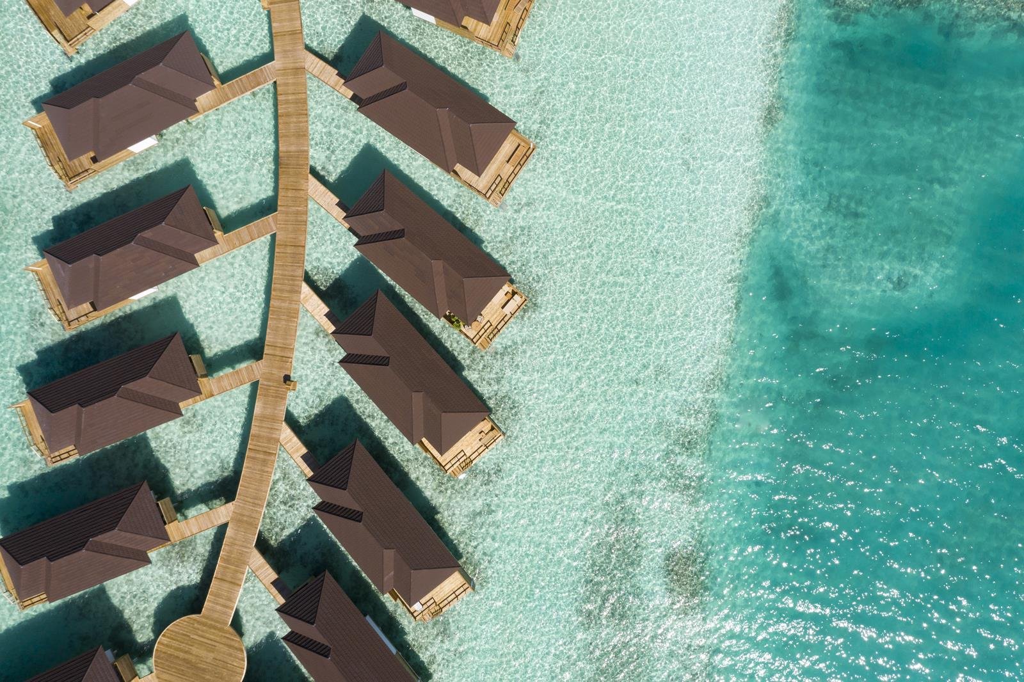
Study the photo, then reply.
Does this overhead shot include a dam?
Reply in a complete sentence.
No, I can't see a single dam in this photo.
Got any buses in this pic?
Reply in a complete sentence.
No, the frame has no bus in it.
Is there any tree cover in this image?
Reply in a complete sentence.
No, there's no tree cover in this view.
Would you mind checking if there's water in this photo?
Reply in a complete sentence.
Yes, there is water in the image.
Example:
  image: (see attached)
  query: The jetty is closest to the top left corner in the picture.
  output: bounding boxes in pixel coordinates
[223,62,277,103]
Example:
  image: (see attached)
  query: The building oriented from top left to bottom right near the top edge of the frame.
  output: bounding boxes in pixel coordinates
[344,30,538,211]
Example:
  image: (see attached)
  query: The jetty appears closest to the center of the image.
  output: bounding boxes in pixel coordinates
[301,279,344,337]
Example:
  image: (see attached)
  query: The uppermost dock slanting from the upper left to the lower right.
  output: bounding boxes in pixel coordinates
[307,51,353,98]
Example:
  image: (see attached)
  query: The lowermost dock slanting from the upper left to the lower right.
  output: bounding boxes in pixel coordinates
[250,546,294,604]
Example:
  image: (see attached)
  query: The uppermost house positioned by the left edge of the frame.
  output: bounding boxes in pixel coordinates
[26,0,141,62]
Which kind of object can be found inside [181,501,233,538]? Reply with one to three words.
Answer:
pier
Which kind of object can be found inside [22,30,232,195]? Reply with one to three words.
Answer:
house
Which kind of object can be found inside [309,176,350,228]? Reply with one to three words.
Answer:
pier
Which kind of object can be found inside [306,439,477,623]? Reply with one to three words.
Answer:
house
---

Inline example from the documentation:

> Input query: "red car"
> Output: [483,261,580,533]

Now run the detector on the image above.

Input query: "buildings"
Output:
[276,570,429,682]
[331,289,507,478]
[26,0,141,62]
[5,332,217,471]
[0,480,186,610]
[370,0,536,66]
[22,30,232,195]
[22,184,232,336]
[25,641,140,682]
[344,30,538,211]
[306,439,477,623]
[343,169,530,354]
